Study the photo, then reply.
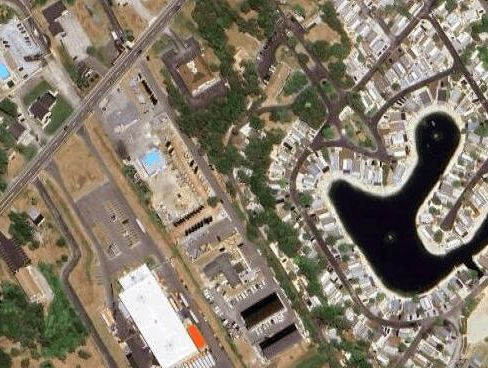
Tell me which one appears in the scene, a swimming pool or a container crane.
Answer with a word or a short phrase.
swimming pool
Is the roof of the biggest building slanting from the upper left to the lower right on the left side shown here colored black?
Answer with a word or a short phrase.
No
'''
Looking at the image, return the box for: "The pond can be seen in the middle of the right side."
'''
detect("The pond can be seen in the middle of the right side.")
[328,112,488,298]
